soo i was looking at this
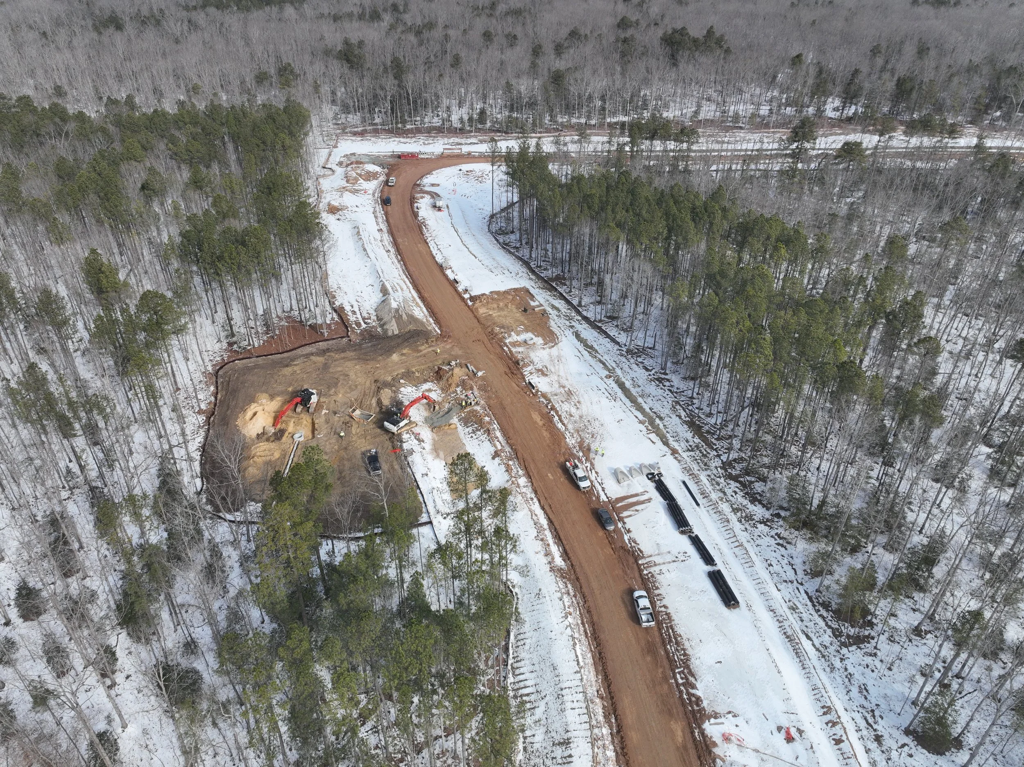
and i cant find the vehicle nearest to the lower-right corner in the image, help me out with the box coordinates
[634,589,657,627]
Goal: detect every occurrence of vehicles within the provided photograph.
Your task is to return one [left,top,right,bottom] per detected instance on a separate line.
[365,448,382,475]
[634,589,657,627]
[388,177,397,186]
[598,507,617,531]
[390,393,441,437]
[384,196,391,205]
[266,388,322,428]
[569,461,591,490]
